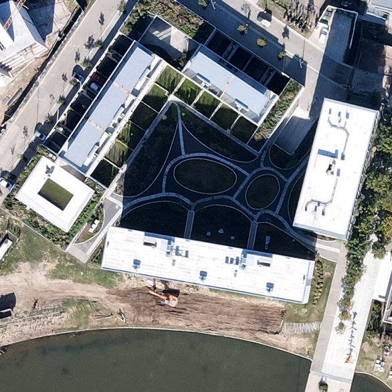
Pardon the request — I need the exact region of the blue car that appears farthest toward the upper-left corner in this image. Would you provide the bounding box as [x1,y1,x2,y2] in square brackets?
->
[69,71,86,85]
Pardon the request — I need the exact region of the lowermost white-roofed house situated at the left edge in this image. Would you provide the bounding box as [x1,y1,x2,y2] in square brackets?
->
[15,156,94,232]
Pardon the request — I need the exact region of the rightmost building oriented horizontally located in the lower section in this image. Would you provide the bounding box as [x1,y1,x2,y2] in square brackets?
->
[100,227,321,304]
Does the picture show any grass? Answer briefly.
Yes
